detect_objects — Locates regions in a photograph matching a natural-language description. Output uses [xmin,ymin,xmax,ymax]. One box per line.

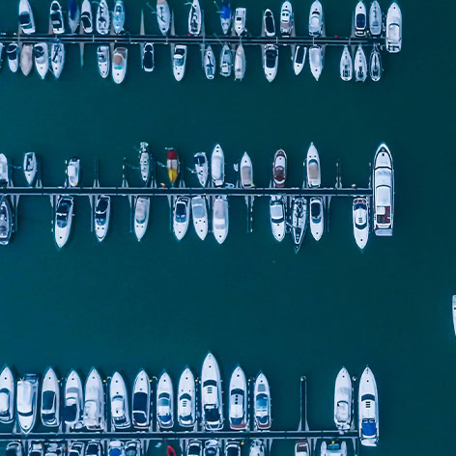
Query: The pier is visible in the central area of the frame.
[0,160,372,232]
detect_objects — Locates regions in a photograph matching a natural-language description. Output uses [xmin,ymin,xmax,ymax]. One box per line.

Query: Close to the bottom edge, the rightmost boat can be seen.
[358,365,379,448]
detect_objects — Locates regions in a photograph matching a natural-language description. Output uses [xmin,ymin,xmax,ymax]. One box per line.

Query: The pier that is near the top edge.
[0,7,384,72]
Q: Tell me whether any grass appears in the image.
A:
No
